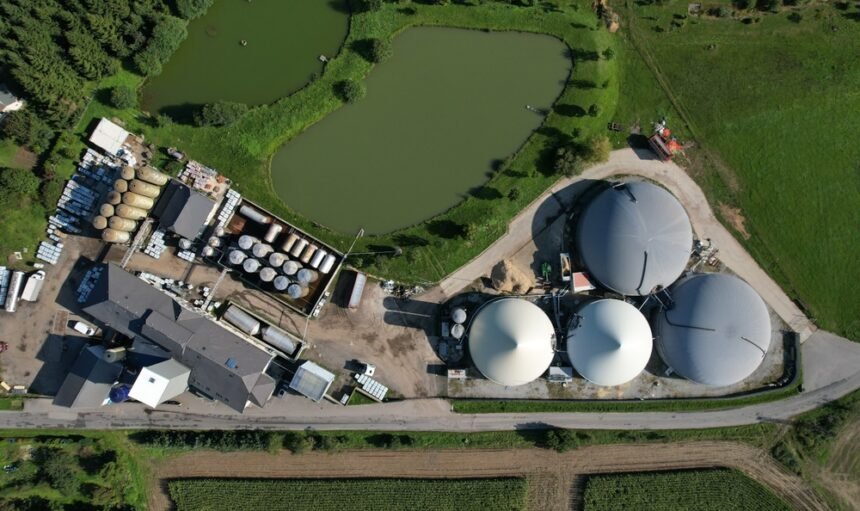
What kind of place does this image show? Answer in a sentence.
What you see here is an industrial area.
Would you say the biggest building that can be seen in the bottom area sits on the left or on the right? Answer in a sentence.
The biggest building that can be seen in the bottom area is on the left side of the image.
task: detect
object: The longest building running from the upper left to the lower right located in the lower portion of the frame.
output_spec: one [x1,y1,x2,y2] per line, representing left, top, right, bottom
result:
[81,261,278,414]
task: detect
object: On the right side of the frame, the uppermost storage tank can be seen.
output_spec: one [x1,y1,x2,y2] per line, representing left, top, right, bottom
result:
[574,180,693,296]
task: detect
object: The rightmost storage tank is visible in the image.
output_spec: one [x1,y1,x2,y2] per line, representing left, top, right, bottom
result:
[651,271,771,387]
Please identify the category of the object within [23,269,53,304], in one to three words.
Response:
truck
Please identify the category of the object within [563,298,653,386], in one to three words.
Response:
storage tank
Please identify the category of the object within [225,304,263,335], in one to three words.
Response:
storage tank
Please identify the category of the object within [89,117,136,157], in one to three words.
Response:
shed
